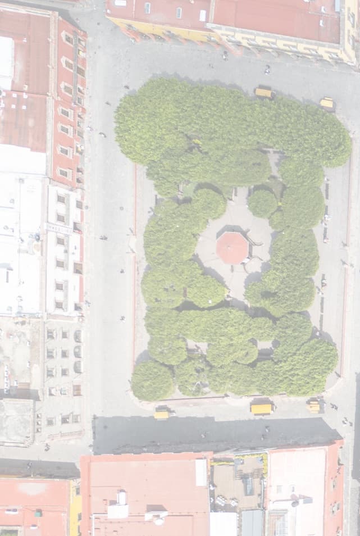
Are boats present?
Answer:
No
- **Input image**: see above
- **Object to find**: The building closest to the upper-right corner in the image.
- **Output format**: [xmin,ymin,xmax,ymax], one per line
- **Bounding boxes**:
[207,0,360,71]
